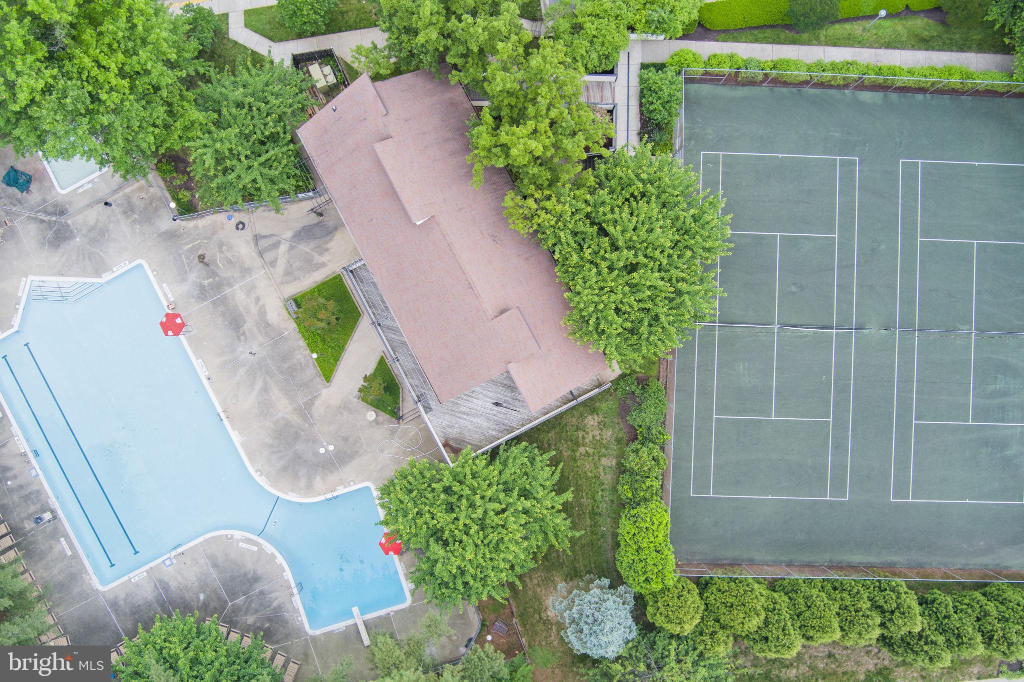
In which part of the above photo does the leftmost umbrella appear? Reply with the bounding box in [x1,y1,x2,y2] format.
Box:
[160,313,187,336]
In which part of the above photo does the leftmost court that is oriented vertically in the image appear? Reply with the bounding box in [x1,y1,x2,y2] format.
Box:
[672,82,881,568]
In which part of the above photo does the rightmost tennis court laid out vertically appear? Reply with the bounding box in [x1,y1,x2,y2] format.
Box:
[870,91,1024,572]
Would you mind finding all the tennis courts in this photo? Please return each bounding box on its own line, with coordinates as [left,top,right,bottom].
[672,82,881,568]
[870,91,1024,572]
